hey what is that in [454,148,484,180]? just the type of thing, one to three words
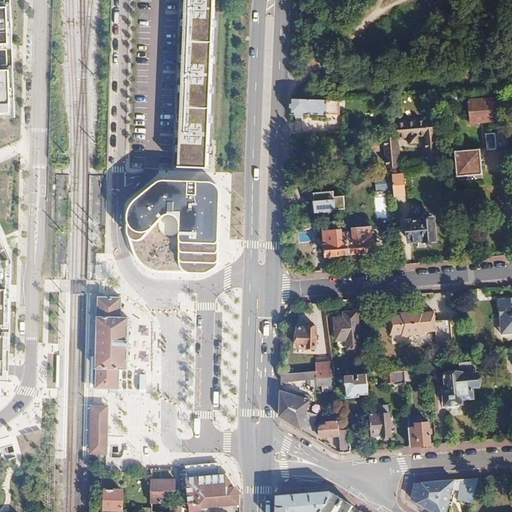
house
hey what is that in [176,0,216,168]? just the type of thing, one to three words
building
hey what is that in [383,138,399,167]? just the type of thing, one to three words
house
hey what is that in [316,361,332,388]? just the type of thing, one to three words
building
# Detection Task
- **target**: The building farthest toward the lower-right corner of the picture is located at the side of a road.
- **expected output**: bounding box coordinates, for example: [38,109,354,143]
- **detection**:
[412,477,481,512]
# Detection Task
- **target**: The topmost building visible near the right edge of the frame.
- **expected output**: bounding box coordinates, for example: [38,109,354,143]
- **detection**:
[468,96,493,124]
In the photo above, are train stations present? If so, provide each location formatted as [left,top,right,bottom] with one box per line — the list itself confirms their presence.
[94,297,126,390]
